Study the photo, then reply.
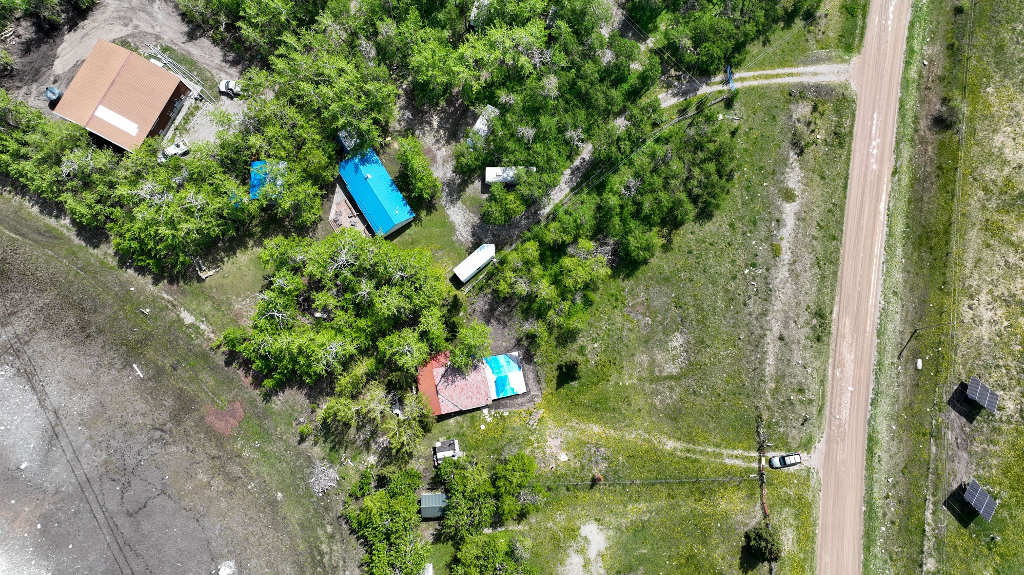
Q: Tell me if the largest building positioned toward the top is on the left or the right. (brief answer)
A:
left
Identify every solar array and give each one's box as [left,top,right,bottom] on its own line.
[965,479,997,521]
[968,376,1000,414]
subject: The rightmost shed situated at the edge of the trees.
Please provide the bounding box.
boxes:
[484,352,526,400]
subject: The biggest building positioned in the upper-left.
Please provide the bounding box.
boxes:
[53,39,189,158]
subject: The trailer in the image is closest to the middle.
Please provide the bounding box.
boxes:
[453,248,496,285]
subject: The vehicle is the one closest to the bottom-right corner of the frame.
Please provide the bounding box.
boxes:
[769,452,805,471]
